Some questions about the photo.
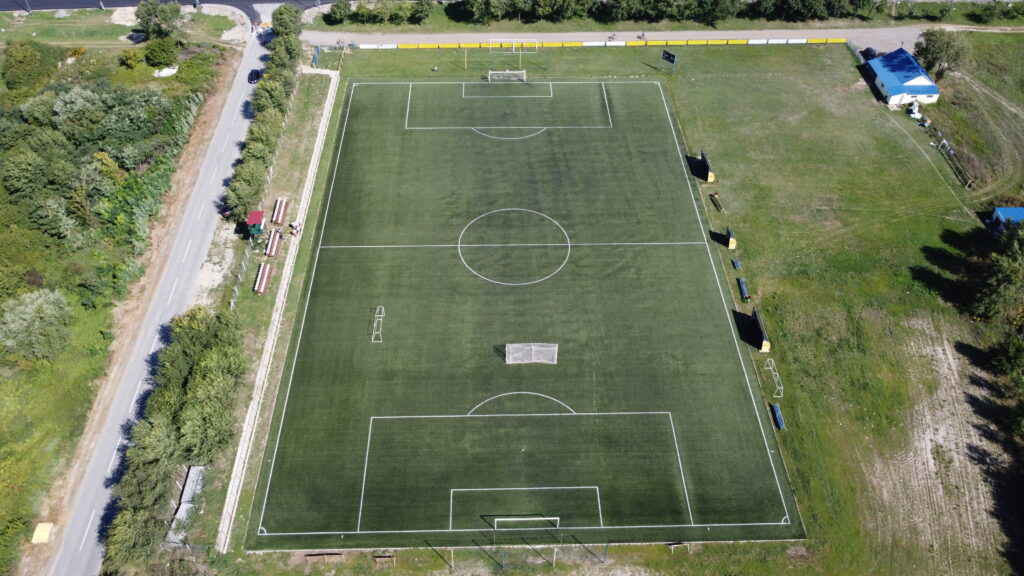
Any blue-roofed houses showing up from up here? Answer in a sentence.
Yes, the image includes a blue-roofed house.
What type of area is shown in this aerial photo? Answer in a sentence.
The picture captures a sports ground.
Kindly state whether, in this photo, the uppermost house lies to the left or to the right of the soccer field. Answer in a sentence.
Relative to the soccer field, the uppermost house is on the right.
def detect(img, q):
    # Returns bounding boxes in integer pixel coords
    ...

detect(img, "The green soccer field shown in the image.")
[241,76,809,554]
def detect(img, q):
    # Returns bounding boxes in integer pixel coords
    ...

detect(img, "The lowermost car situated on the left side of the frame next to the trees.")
[249,68,263,81]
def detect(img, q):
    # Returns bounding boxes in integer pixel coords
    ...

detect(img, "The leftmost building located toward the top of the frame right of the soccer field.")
[867,43,940,109]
